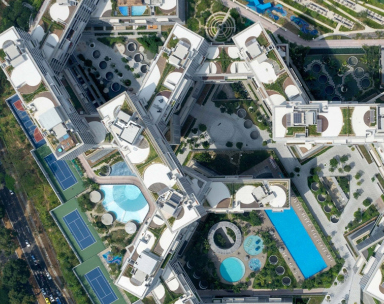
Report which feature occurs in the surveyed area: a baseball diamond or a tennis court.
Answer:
tennis court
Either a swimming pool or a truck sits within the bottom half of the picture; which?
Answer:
swimming pool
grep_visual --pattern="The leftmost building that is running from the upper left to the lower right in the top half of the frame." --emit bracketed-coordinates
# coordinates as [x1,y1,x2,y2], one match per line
[0,26,96,160]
